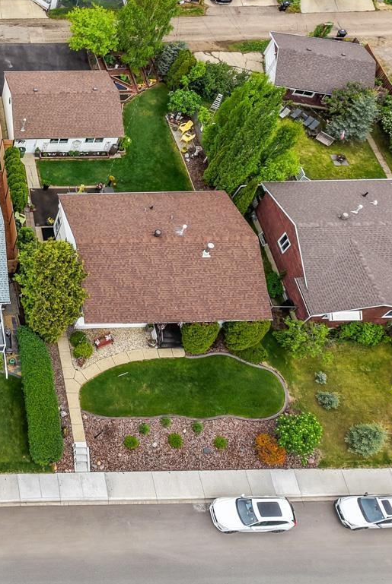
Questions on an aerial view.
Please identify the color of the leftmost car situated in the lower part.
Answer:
white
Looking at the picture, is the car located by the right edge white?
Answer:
Yes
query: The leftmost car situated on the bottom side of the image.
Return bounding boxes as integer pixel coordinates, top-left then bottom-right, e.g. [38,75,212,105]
[205,493,297,536]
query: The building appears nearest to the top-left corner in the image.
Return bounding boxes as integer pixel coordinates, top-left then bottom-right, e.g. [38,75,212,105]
[4,70,123,155]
